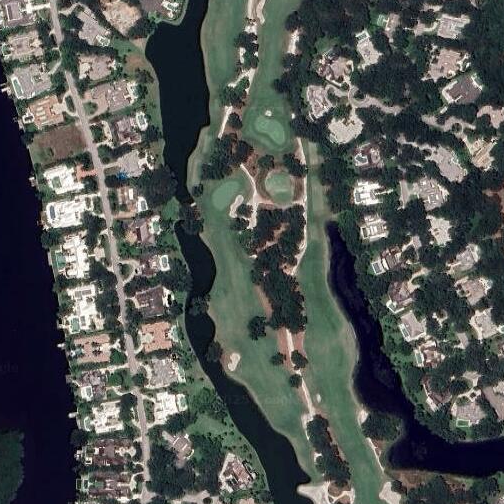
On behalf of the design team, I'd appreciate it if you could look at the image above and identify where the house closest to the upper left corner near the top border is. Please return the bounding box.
[0,0,38,24]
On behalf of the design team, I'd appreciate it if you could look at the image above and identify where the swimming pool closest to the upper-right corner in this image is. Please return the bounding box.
[457,50,474,67]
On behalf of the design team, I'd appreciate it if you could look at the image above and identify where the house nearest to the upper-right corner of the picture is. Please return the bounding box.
[437,14,469,38]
